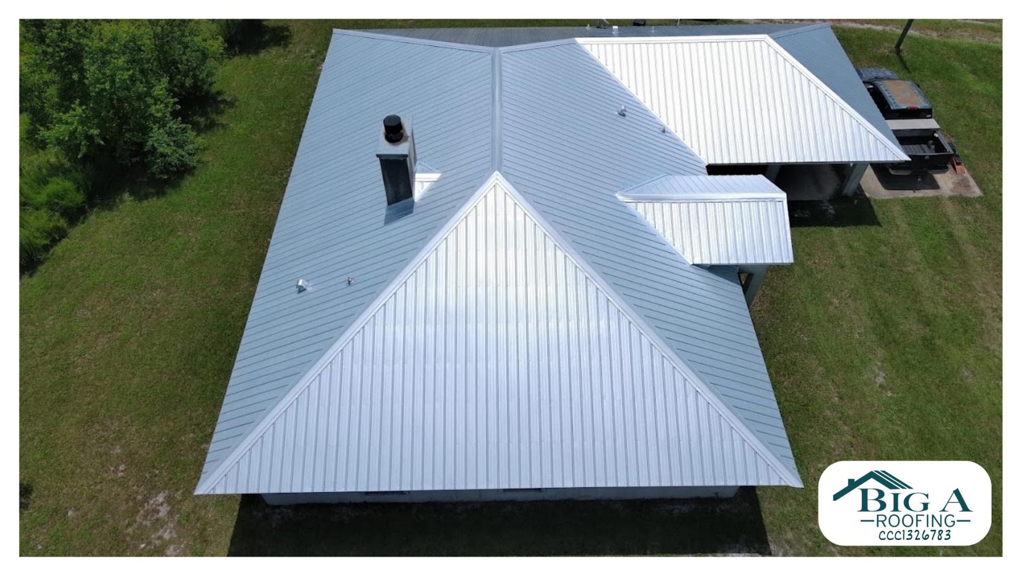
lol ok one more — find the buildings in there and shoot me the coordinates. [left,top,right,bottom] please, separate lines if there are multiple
[192,22,911,505]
